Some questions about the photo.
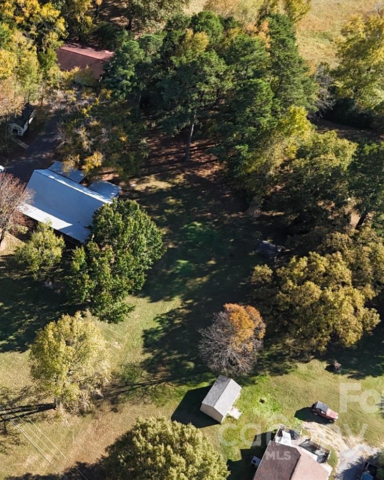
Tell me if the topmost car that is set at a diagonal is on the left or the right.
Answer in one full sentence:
The topmost car that is set at a diagonal is on the right side of the image.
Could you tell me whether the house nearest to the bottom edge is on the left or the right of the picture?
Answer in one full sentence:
You can find the house nearest to the bottom edge on the right side of the picture.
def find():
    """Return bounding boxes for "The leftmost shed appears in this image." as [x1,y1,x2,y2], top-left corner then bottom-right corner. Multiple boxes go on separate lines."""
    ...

[6,103,36,138]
